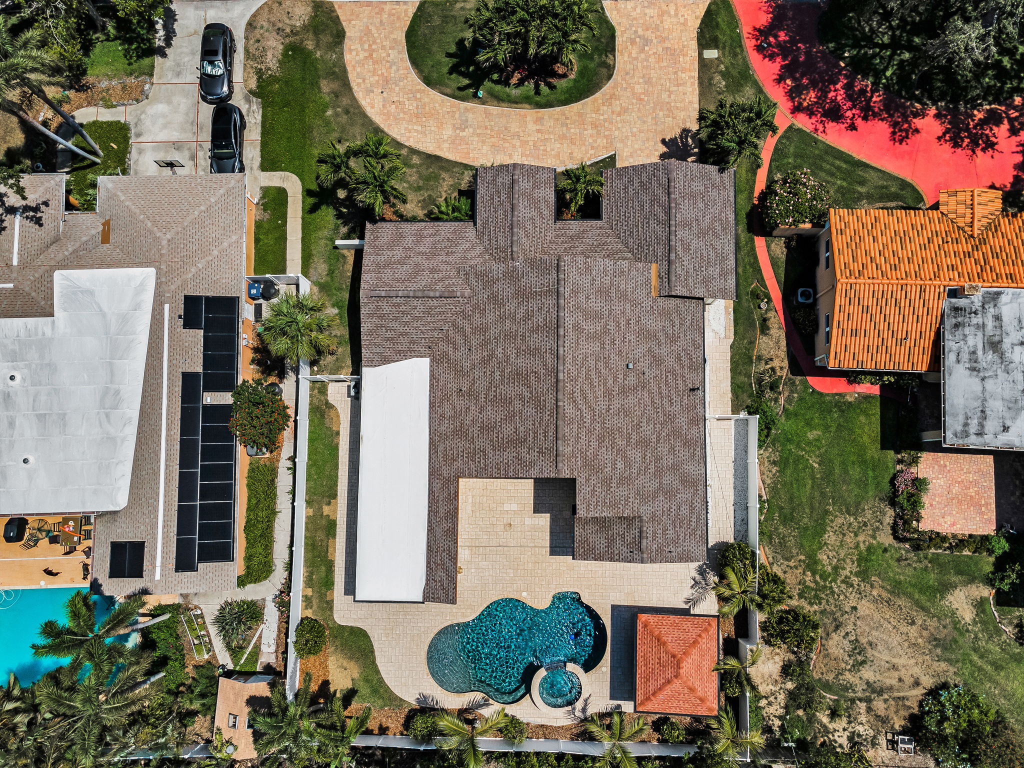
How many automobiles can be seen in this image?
2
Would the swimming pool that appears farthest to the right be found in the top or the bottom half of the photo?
bottom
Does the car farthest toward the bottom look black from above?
Yes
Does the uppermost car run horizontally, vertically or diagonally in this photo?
vertically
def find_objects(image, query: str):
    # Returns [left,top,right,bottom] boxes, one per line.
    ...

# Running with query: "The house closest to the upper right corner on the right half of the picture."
[816,188,1024,452]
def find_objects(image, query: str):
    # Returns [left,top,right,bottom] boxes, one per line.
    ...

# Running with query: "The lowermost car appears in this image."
[207,106,249,176]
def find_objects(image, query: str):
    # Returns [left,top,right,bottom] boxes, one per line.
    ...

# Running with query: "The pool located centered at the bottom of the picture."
[422,586,612,719]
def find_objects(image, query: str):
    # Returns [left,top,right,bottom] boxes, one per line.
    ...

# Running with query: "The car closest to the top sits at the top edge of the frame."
[198,25,240,105]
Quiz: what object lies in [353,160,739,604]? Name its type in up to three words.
house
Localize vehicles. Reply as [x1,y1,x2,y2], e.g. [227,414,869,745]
[198,25,240,105]
[207,106,249,176]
